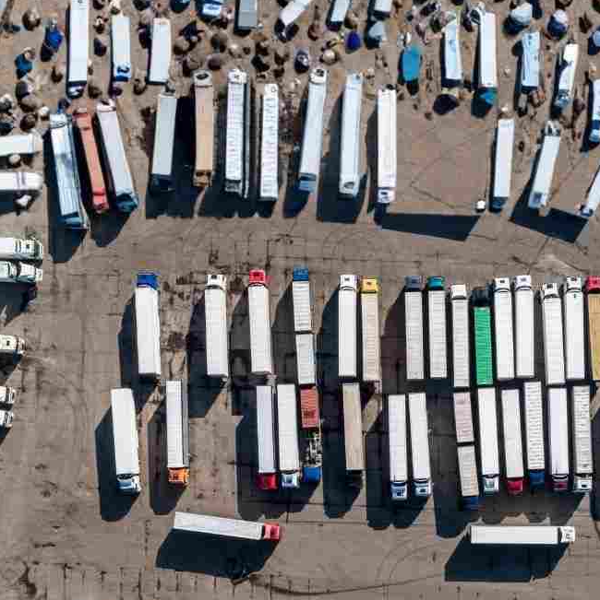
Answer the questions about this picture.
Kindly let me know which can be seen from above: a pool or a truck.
truck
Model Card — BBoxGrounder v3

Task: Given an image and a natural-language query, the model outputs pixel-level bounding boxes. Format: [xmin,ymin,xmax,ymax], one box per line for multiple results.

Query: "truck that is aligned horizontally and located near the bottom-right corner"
[468,525,574,547]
